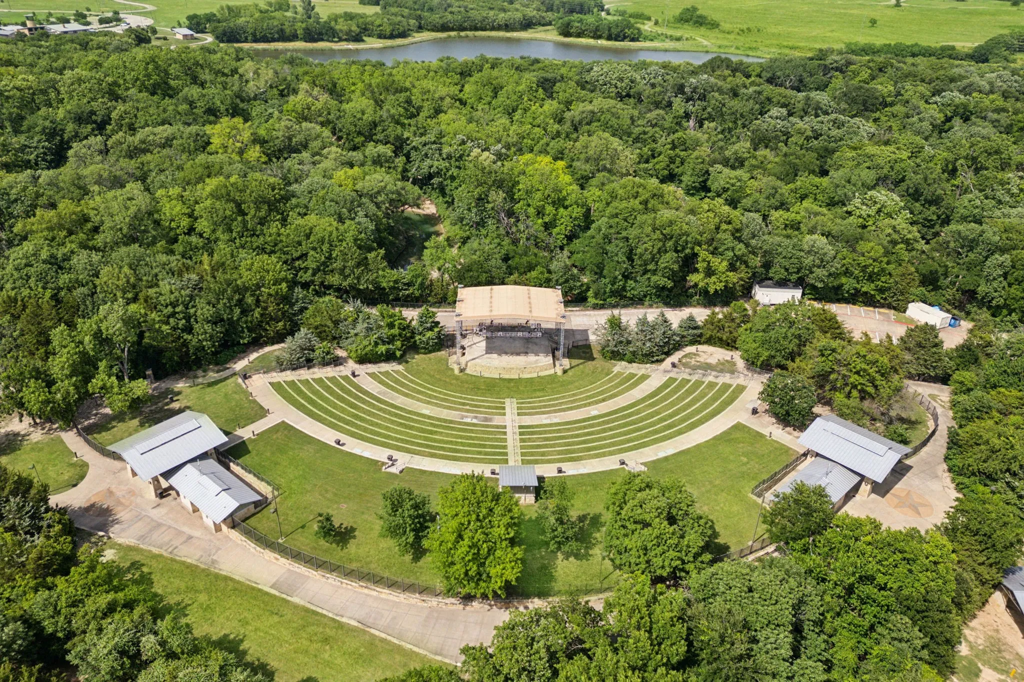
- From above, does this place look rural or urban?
rural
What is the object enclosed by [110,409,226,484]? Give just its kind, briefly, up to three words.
building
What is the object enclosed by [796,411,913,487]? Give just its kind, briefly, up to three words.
building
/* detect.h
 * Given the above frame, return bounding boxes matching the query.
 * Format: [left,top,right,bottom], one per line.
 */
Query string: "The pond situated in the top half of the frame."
[173,36,771,83]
